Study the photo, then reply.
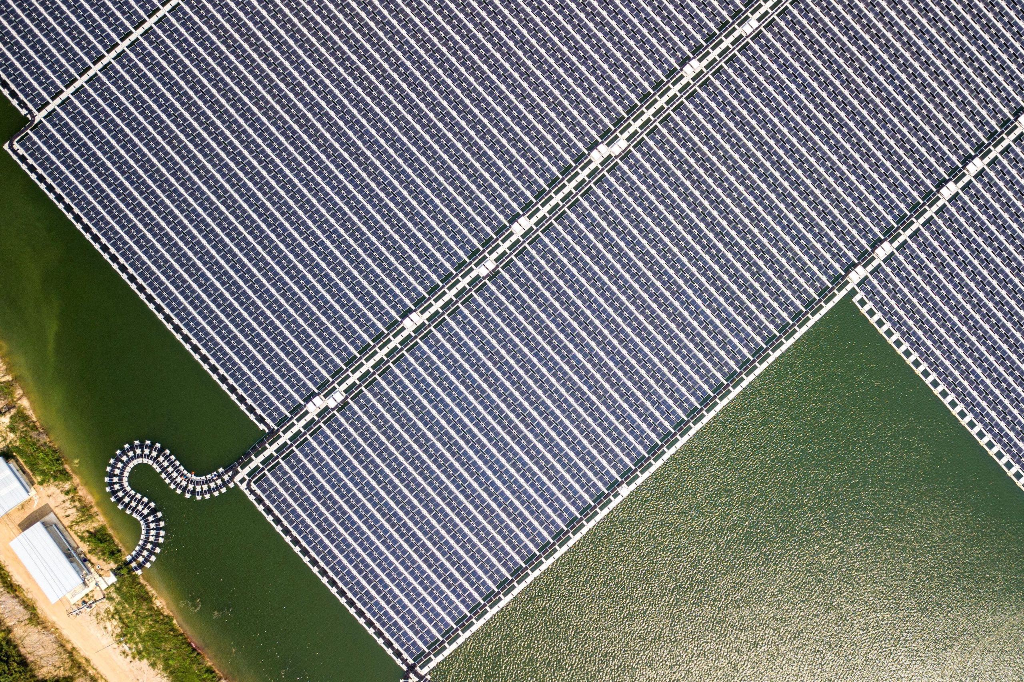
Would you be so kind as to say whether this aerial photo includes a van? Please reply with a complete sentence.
No, I can see no van in this picture.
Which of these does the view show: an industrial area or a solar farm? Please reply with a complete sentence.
The picture captures a solar farm.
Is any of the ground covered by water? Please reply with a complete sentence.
Yes, some water is visible.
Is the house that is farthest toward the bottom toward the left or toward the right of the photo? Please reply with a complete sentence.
The house that is farthest toward the bottom is on the left side of the image.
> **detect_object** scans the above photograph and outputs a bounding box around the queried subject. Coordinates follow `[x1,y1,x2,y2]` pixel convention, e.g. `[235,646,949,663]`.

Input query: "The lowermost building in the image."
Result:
[9,517,93,605]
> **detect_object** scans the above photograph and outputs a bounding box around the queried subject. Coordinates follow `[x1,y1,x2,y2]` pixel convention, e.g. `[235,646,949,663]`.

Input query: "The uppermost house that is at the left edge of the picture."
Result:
[0,453,47,517]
